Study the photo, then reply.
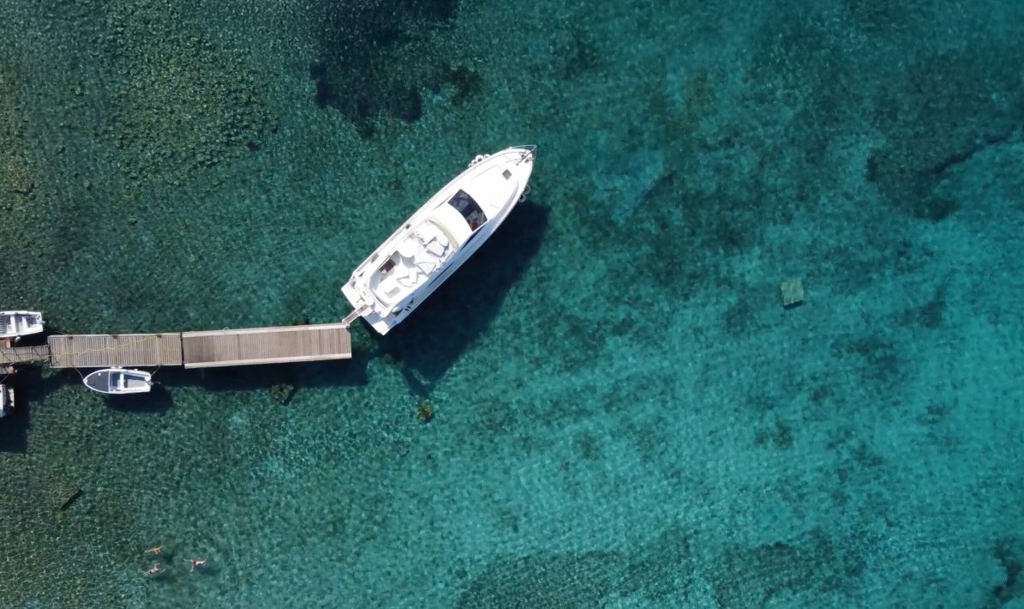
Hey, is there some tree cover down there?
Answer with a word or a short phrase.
No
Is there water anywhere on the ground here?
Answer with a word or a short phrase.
Yes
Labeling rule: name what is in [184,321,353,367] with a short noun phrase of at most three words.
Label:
pier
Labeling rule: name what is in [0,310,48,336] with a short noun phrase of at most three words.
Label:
boat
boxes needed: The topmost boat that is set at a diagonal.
[342,146,534,333]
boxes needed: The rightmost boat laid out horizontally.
[82,368,158,394]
